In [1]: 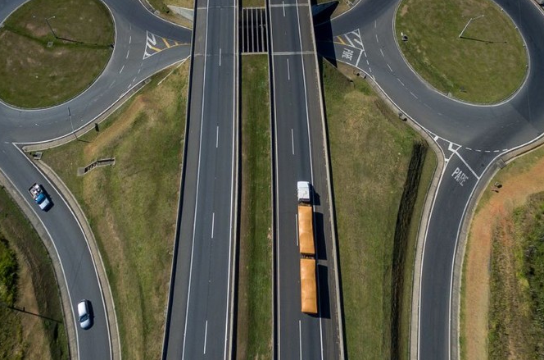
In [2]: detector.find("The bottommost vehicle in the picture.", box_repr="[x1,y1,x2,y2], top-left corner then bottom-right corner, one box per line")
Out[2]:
[76,296,90,330]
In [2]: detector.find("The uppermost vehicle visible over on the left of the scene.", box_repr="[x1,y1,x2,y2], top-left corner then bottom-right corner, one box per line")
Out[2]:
[29,182,48,209]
